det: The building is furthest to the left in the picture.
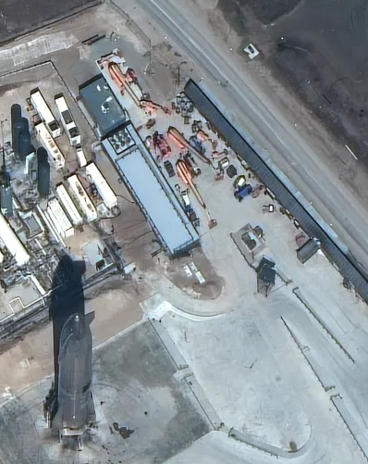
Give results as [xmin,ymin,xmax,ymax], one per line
[23,214,47,239]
